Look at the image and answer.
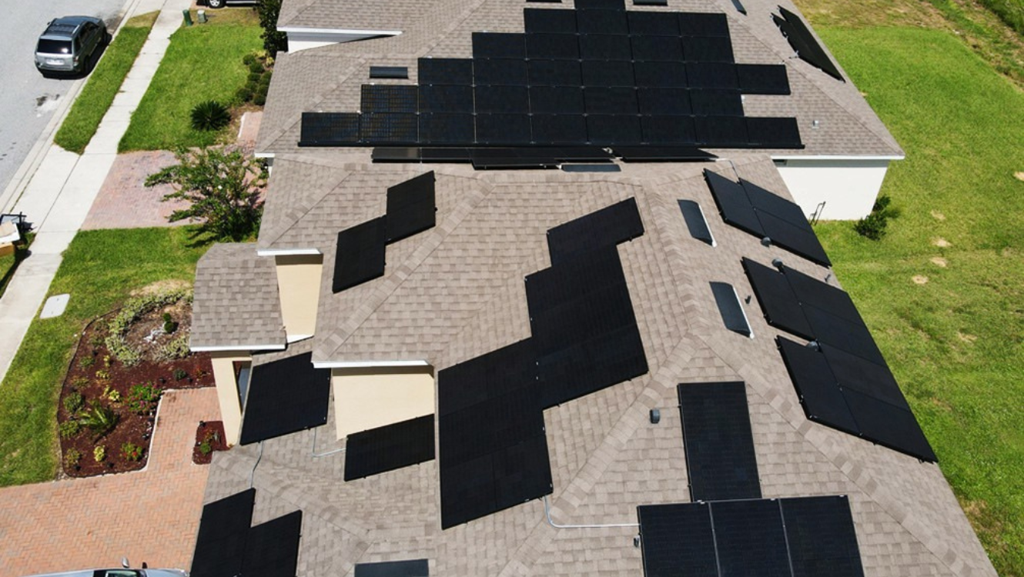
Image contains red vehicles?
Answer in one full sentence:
No, there appears to be no red vehicle in this shot.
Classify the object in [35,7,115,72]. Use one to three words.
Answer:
car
